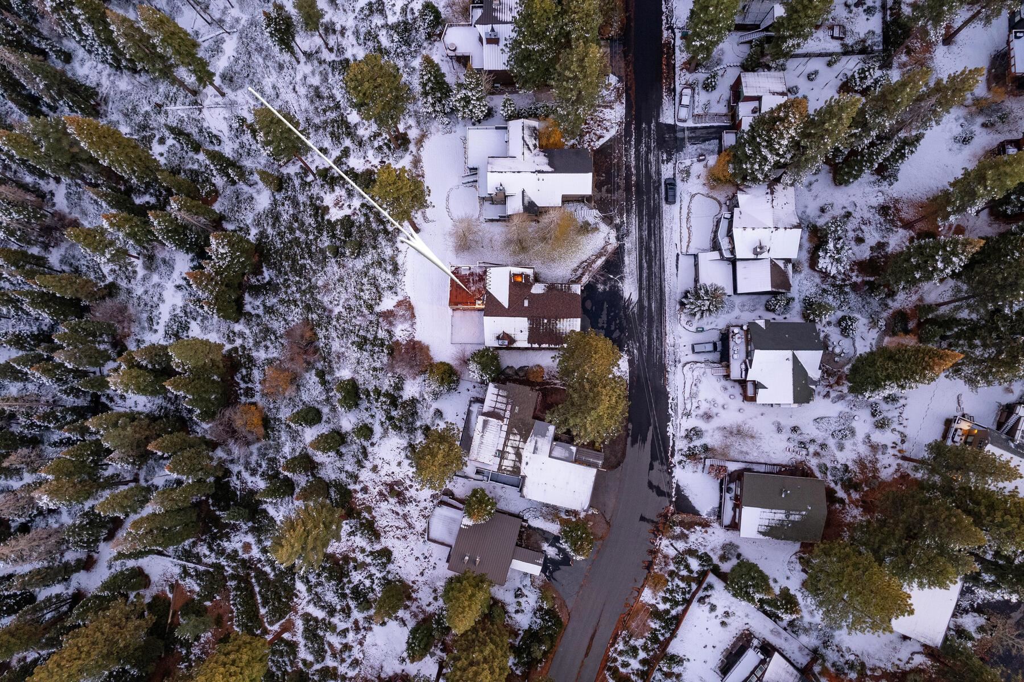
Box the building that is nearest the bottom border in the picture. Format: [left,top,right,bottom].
[716,641,807,682]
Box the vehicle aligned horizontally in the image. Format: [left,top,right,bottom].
[690,340,725,354]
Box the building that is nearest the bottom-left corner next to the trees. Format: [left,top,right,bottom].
[427,495,544,585]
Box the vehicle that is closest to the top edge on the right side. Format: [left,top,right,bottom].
[676,88,693,121]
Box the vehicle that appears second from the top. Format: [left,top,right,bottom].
[664,178,678,205]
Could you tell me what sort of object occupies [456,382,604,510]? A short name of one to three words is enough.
house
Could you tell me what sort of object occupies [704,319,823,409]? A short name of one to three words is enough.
building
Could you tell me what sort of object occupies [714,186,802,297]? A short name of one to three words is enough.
house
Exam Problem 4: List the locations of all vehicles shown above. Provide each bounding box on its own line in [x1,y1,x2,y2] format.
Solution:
[676,88,693,121]
[690,340,725,354]
[664,178,678,205]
